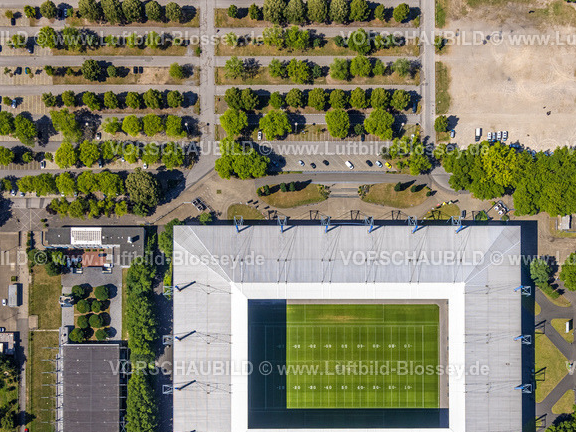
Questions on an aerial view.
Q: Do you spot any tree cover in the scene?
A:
Yes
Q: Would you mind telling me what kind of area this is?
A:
sports ground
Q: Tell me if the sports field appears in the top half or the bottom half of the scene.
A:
bottom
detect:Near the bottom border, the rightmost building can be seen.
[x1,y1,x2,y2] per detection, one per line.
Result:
[41,344,128,432]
